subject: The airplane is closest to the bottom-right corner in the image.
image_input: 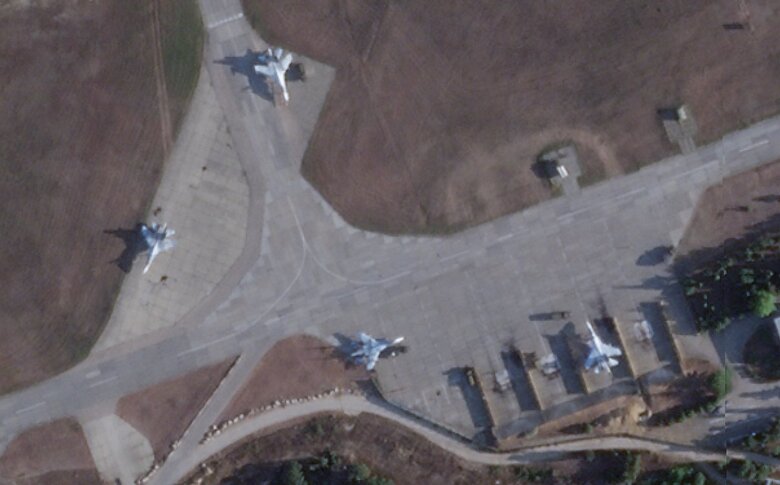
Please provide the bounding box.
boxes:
[583,323,622,378]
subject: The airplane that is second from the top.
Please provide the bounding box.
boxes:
[141,218,179,272]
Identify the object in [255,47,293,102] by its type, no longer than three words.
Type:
airplane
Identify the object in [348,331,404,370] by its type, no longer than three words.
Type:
airplane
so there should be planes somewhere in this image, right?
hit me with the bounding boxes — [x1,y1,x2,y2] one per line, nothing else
[255,47,293,102]
[348,331,404,370]
[141,218,179,272]
[583,323,622,378]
